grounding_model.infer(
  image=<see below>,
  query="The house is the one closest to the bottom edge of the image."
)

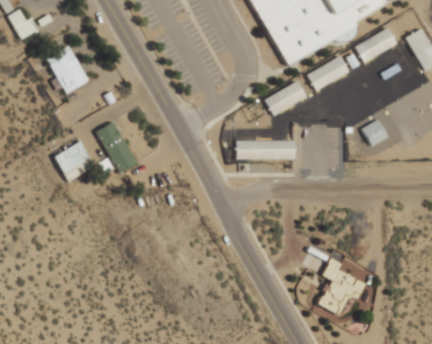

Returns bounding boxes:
[316,259,366,316]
